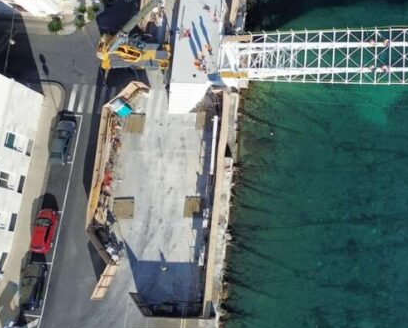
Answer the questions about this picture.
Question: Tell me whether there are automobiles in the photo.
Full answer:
Yes, there is an automobile in the image.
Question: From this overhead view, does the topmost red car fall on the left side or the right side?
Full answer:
The topmost red car is on the left side of the image.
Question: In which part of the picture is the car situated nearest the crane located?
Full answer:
The car situated nearest the crane is located in the left region of the scene.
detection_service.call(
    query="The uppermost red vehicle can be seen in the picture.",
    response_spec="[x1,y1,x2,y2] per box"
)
[29,209,61,254]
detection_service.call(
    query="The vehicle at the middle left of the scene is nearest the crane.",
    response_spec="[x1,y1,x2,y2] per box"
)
[47,120,77,166]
